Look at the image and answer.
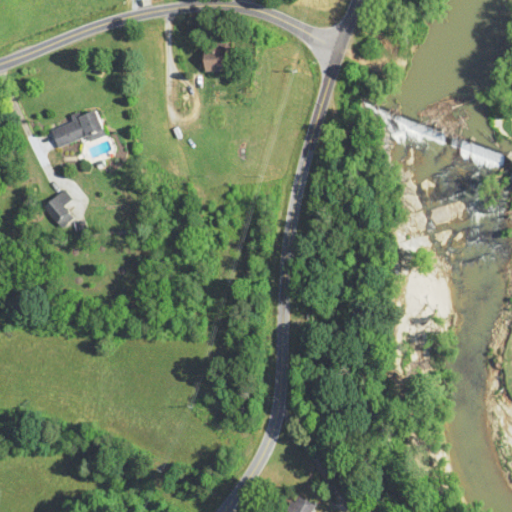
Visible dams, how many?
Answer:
1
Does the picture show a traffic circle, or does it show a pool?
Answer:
pool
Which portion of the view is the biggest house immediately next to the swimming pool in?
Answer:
top left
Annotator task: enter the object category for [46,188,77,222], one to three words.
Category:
building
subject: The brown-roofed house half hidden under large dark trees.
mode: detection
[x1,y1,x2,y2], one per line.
[202,42,231,71]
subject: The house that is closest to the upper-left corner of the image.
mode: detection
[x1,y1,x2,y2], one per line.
[48,110,106,150]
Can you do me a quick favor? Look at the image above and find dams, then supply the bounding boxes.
[367,108,506,166]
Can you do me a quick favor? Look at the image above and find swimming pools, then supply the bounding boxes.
[82,136,117,164]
